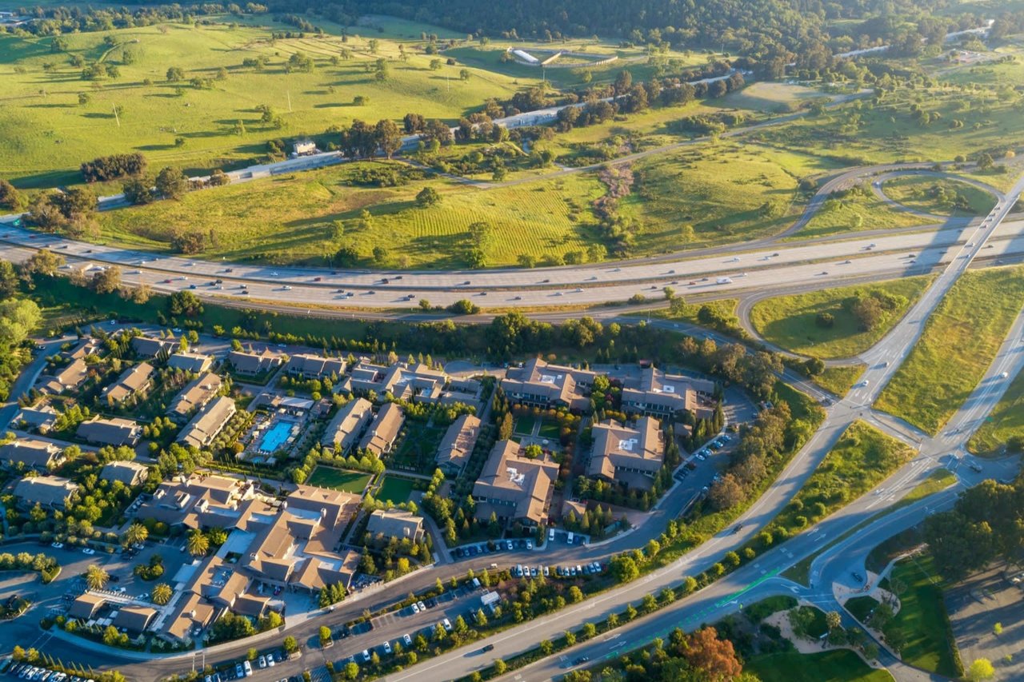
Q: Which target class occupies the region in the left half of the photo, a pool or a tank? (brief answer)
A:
pool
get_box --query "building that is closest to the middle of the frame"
[497,356,600,422]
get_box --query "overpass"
[932,198,1013,296]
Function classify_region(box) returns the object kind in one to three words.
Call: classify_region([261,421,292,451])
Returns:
swimming pool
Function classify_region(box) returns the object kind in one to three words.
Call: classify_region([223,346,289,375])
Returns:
house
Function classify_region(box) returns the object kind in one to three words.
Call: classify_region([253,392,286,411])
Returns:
building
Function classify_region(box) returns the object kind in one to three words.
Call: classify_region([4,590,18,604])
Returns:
vehicle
